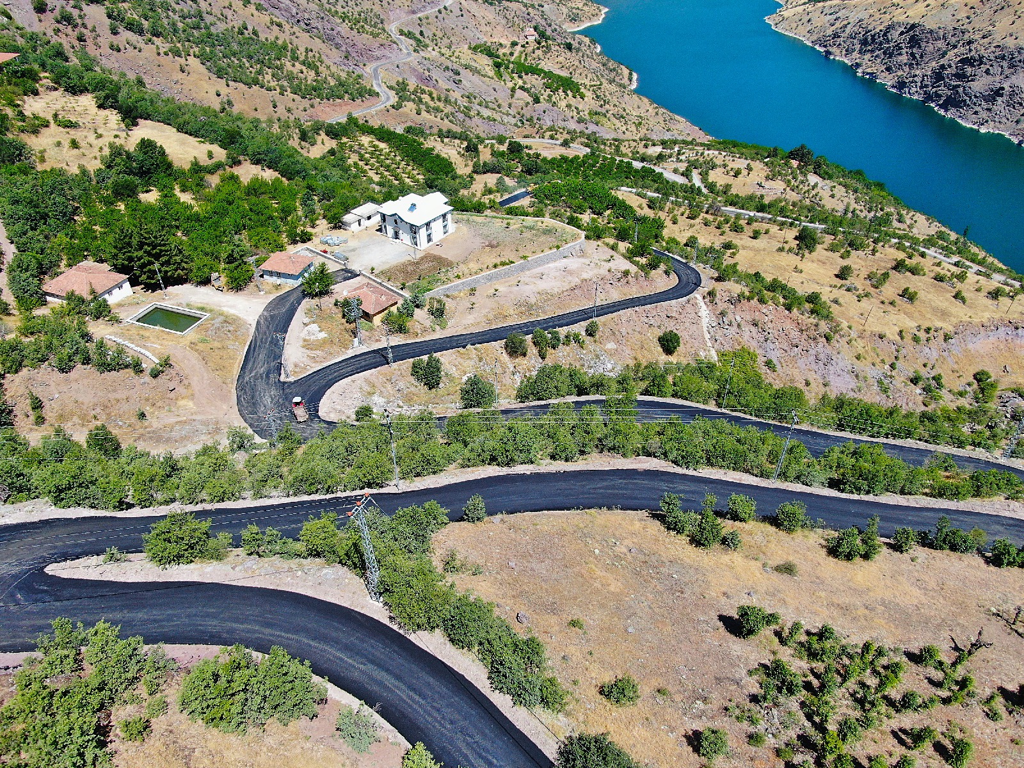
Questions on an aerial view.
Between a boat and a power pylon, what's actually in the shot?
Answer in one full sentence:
Looking from above, you can make out a power pylon.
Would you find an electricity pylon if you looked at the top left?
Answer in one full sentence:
No, no electricity pylon appears at the top left.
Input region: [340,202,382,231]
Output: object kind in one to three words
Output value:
building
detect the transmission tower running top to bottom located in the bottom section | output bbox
[340,489,385,605]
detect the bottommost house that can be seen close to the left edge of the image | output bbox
[45,262,125,305]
